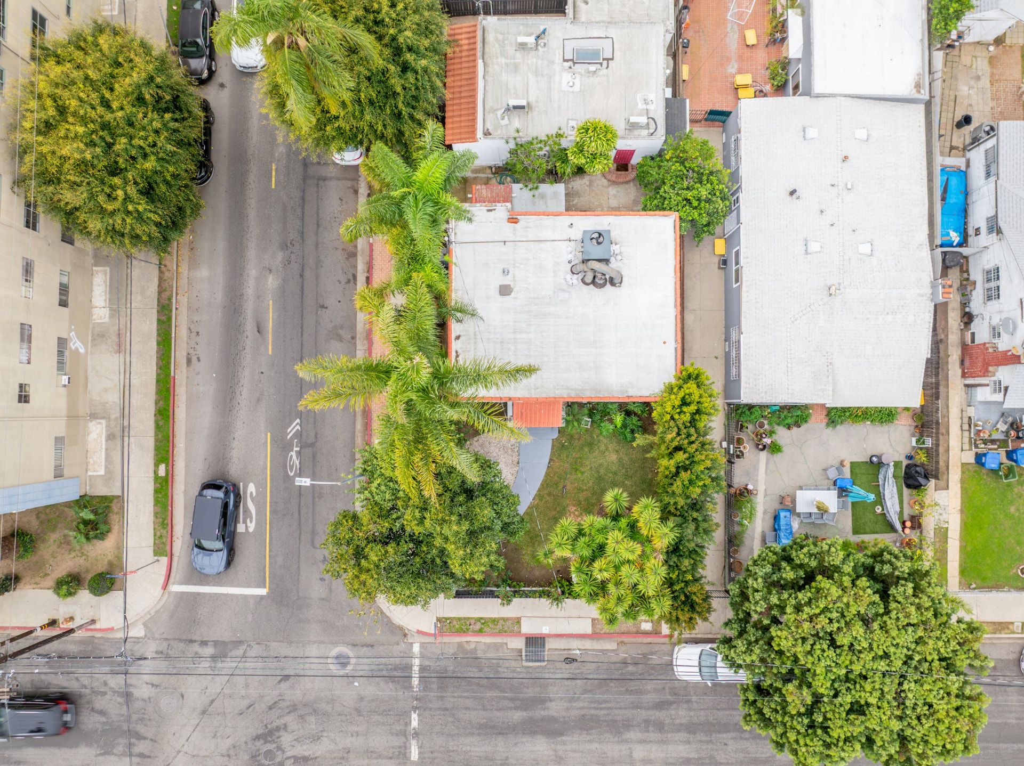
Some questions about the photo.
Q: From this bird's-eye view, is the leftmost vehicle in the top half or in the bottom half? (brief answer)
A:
bottom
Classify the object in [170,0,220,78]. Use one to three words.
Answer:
car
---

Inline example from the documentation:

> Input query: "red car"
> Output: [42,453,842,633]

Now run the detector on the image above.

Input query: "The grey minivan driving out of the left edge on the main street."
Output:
[0,694,71,744]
